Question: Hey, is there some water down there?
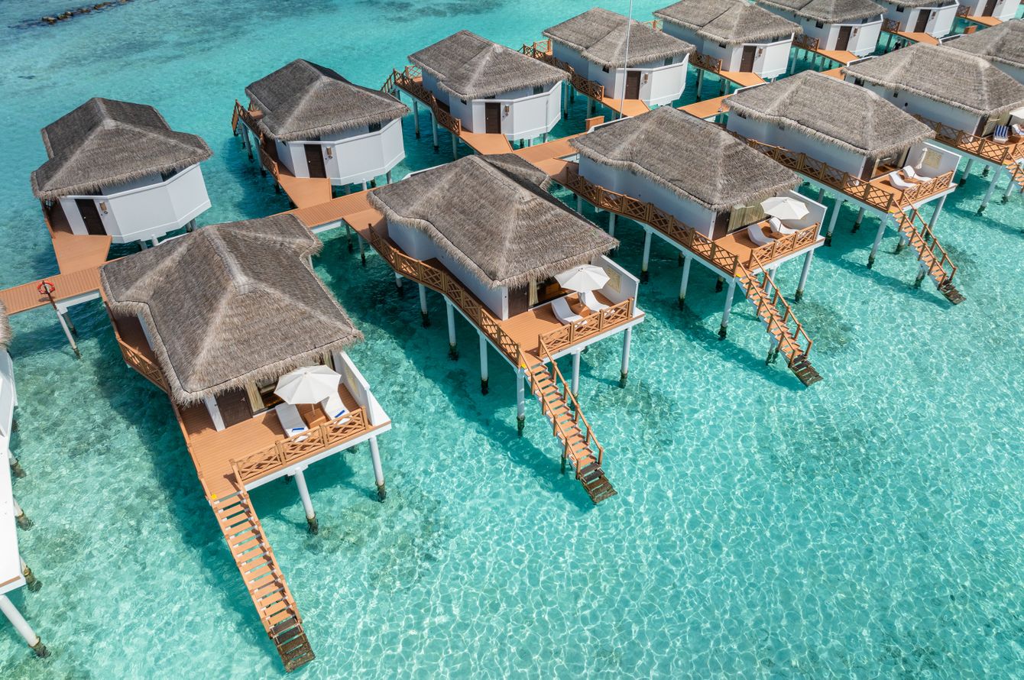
Yes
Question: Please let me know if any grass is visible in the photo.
No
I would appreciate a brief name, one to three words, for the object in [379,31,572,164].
house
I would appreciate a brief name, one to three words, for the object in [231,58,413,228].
house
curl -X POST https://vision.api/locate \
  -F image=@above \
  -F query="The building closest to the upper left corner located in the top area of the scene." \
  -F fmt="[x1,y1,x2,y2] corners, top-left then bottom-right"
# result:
[27,92,215,272]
